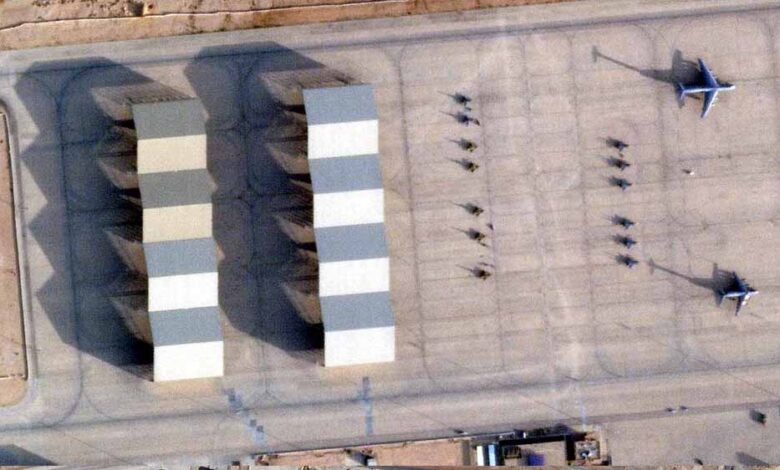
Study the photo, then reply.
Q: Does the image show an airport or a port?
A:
airport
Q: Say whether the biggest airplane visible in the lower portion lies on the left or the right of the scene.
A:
right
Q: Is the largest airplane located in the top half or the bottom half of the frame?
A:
top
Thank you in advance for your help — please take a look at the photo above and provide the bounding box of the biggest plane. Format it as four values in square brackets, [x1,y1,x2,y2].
[679,61,735,120]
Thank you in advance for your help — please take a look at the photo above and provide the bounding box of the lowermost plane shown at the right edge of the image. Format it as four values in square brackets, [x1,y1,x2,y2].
[719,273,758,316]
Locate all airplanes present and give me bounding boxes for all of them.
[623,238,639,249]
[465,163,481,174]
[463,142,479,153]
[619,179,634,190]
[458,95,473,106]
[471,232,486,243]
[459,115,475,126]
[625,257,641,268]
[615,142,631,152]
[719,273,758,316]
[622,219,637,230]
[469,207,485,218]
[679,61,735,120]
[617,161,633,171]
